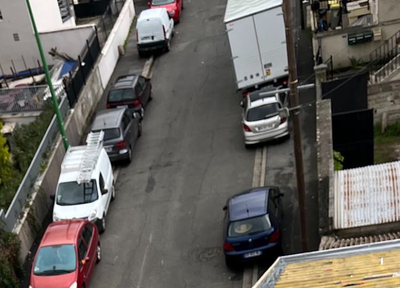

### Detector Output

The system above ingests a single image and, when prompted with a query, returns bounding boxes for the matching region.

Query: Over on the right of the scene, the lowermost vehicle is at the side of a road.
[223,186,286,261]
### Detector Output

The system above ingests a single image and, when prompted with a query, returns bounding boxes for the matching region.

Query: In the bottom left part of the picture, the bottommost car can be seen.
[21,220,97,288]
